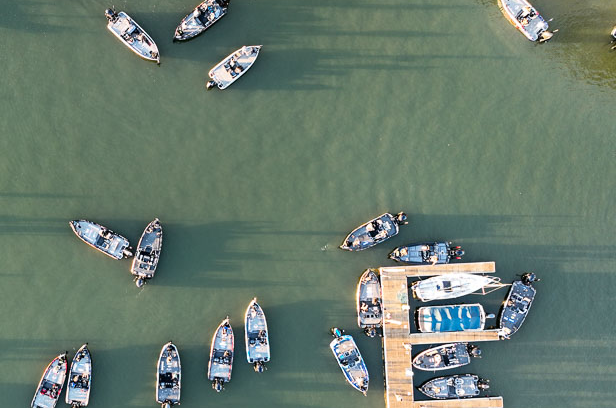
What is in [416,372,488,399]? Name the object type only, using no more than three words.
boat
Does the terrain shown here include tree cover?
No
